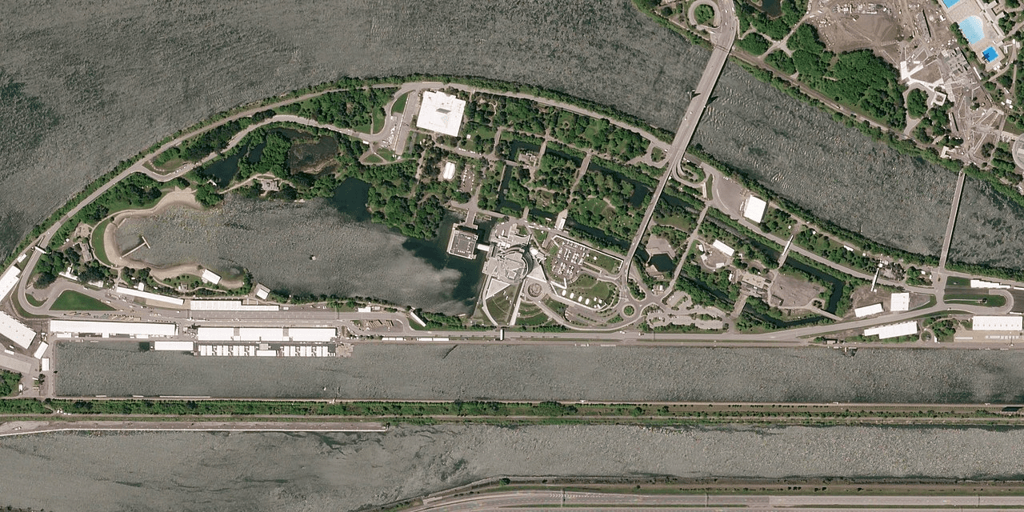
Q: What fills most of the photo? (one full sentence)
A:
The largest share of the image is taken up by water.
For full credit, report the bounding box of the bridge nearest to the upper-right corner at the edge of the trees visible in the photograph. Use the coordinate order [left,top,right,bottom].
[940,171,965,267]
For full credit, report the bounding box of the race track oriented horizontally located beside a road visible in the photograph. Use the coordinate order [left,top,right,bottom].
[18,222,1016,340]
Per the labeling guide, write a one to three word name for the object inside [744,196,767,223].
building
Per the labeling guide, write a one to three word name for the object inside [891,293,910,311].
building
